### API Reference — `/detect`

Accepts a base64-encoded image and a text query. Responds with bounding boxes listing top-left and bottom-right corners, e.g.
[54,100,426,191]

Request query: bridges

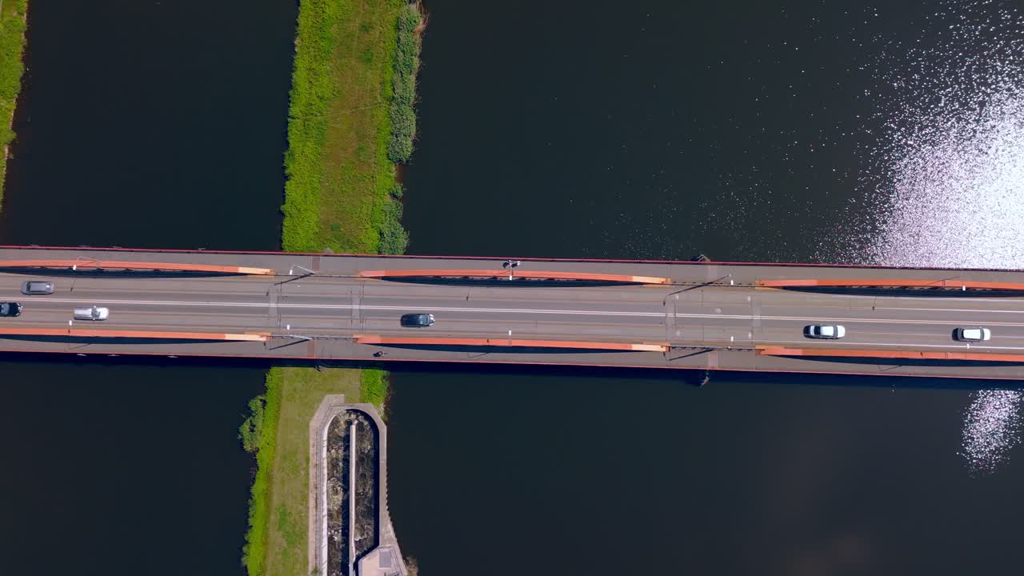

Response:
[0,245,1024,387]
